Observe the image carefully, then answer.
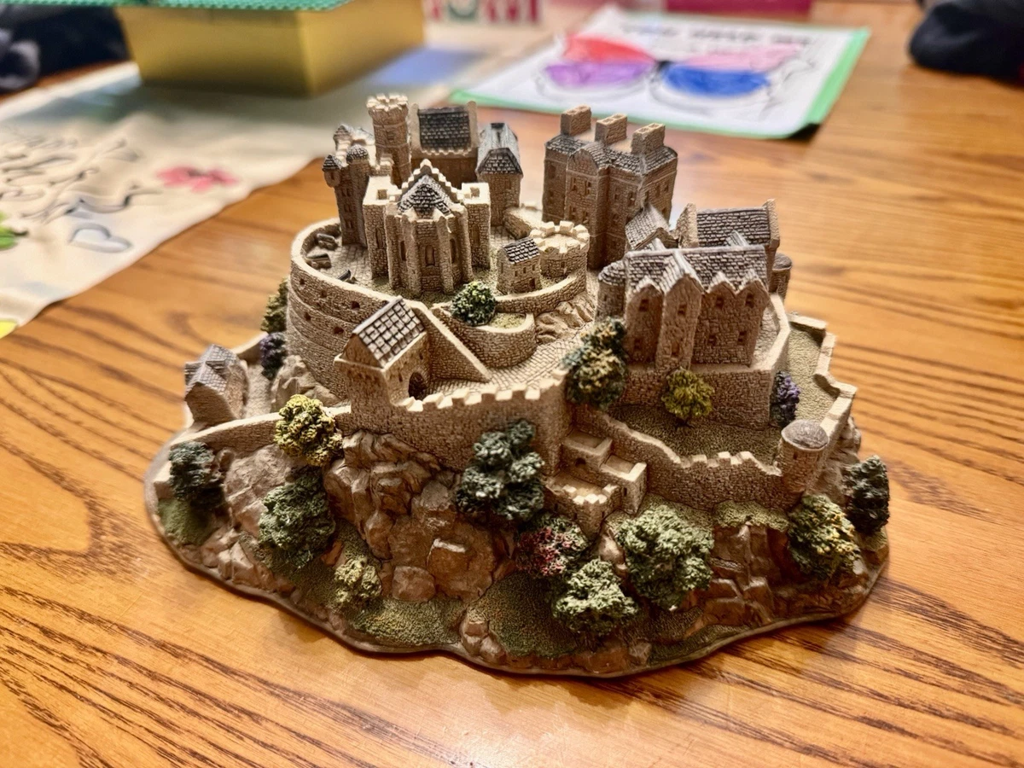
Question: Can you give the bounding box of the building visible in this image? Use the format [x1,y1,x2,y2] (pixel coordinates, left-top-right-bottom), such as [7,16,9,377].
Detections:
[144,87,899,677]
